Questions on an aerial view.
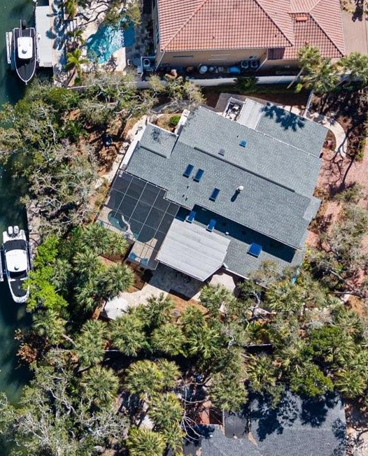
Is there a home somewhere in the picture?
Yes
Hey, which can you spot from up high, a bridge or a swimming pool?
swimming pool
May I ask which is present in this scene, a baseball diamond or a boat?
boat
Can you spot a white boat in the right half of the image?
No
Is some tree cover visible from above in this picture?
Yes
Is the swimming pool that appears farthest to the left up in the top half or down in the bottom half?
top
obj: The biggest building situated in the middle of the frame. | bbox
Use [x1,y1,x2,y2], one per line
[112,98,328,297]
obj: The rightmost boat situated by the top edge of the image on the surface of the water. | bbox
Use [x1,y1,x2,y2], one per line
[14,21,36,84]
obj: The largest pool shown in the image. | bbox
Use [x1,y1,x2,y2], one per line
[85,13,138,67]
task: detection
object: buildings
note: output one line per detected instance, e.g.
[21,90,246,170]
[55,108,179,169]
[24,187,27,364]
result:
[182,391,346,456]
[152,0,345,70]
[112,98,328,297]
